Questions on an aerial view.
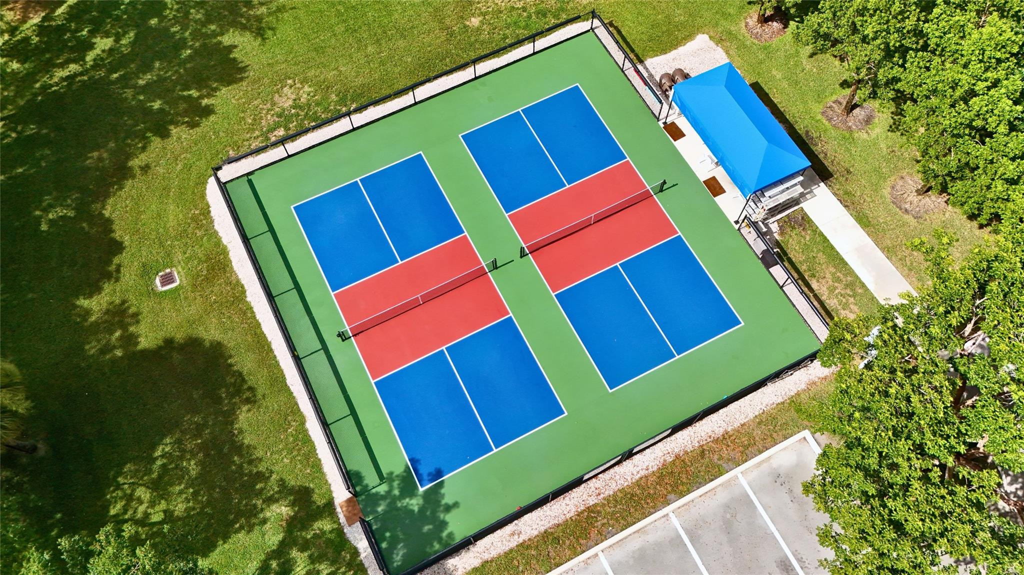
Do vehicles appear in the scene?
No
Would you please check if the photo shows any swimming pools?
No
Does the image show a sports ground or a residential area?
sports ground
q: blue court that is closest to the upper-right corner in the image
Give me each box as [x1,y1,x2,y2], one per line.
[459,84,742,392]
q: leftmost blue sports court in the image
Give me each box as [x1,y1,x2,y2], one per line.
[292,150,567,490]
